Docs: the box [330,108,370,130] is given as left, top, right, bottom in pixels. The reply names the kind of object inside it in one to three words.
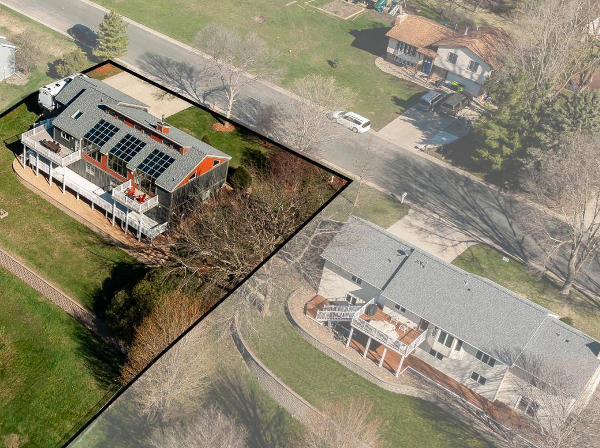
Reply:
vehicle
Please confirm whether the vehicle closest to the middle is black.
No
